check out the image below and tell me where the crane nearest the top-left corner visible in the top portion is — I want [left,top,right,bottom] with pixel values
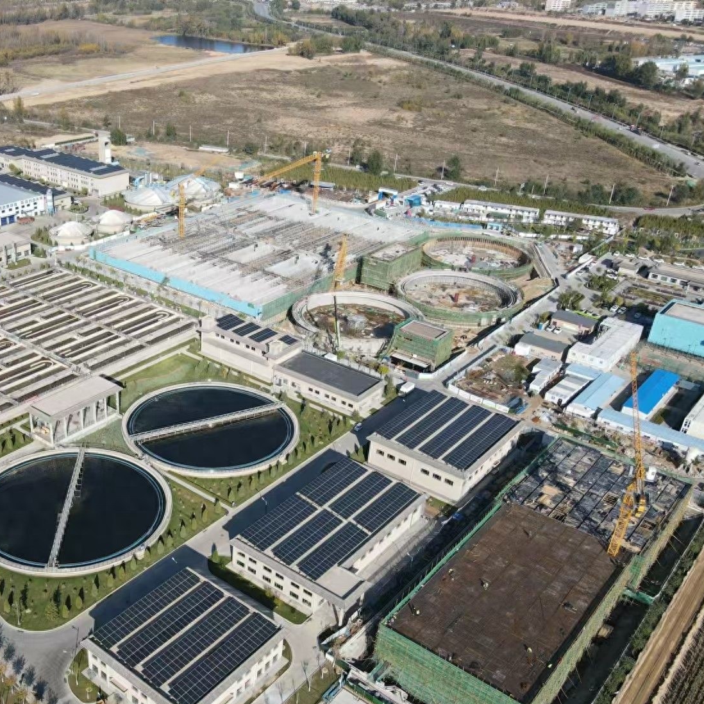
[170,153,221,240]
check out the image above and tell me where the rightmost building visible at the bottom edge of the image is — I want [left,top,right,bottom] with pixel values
[372,438,690,704]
